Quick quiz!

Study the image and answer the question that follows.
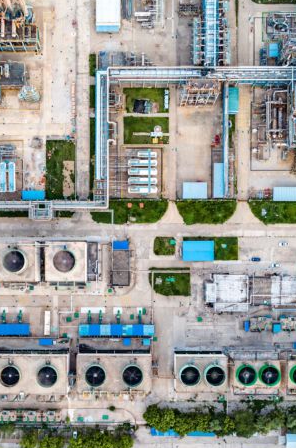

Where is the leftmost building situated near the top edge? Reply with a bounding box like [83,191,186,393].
[95,0,120,27]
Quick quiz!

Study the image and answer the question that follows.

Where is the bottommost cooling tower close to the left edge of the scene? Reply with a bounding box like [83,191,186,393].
[0,351,69,395]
